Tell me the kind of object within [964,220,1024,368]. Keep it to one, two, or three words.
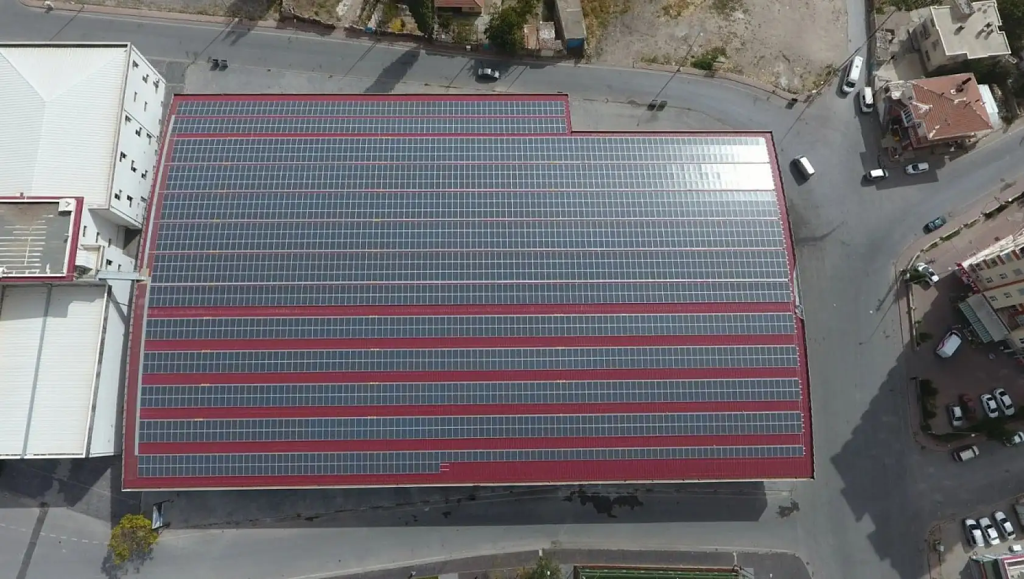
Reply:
building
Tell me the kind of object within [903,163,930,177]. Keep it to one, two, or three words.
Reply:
car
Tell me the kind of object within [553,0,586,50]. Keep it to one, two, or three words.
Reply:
shed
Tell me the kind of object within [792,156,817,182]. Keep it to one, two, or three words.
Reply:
vehicle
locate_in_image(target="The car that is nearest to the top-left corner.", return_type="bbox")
[477,67,500,81]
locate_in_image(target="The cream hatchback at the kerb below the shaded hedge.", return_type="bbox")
[950,445,980,461]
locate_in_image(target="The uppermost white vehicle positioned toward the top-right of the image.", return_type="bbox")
[841,54,866,92]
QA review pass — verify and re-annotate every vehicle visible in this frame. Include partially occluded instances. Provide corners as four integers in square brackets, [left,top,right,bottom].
[946,402,964,427]
[993,389,1013,415]
[993,510,1015,540]
[950,445,980,461]
[935,331,961,359]
[477,67,500,81]
[903,163,930,177]
[865,170,887,182]
[841,54,866,92]
[1013,500,1024,528]
[792,156,817,182]
[962,519,985,547]
[917,262,941,286]
[979,394,999,418]
[958,394,977,421]
[977,517,999,545]
[920,215,948,234]
[860,87,874,113]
